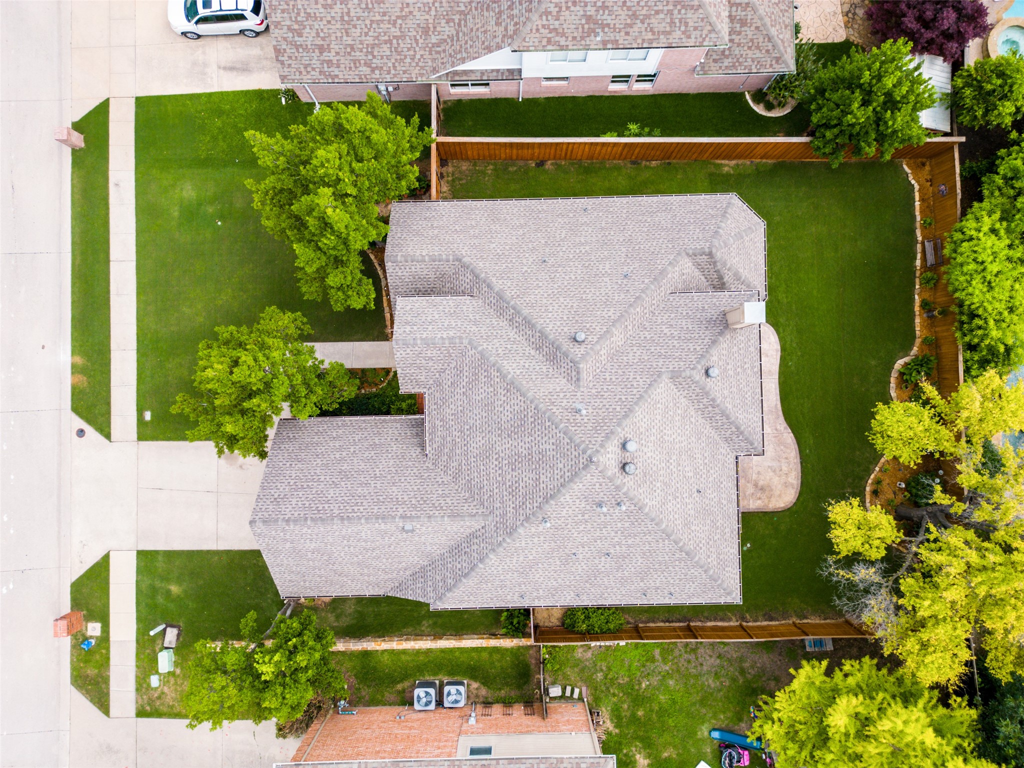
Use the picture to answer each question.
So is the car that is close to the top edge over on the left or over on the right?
left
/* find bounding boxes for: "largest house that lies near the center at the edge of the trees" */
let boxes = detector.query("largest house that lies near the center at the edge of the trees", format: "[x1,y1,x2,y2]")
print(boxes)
[249,193,767,610]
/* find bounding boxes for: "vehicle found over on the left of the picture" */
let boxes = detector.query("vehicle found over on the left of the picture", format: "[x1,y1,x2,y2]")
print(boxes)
[168,0,273,42]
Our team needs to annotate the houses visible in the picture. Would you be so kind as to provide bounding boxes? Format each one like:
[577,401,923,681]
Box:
[268,0,796,104]
[273,696,616,768]
[249,193,767,610]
